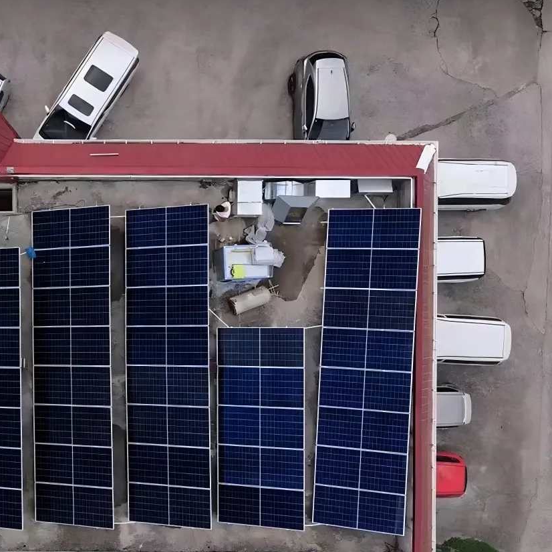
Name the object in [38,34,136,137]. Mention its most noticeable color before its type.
white van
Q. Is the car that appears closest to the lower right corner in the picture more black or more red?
red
